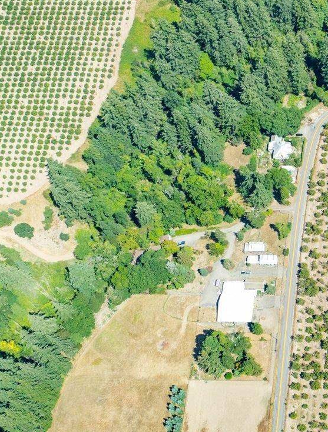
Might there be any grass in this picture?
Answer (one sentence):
Yes, grass shows up in the scene.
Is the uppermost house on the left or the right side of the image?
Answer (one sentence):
The uppermost house sits on the right side.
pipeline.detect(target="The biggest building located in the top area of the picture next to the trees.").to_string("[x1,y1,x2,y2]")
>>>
[264,134,297,164]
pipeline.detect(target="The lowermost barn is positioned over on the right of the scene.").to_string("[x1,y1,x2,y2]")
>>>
[215,281,268,327]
